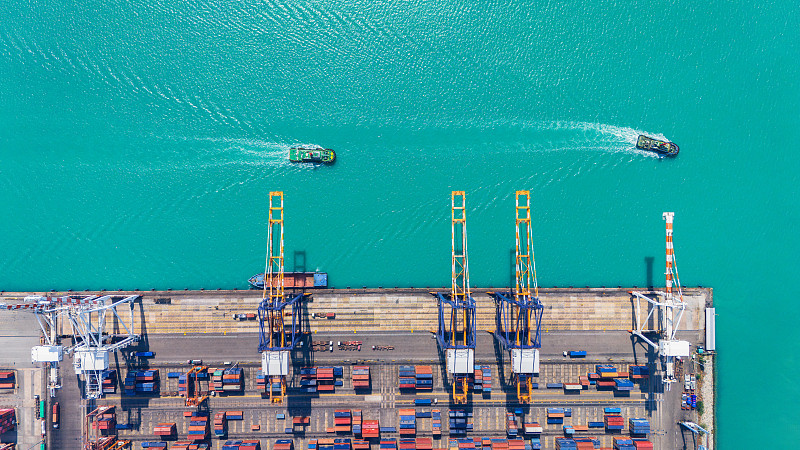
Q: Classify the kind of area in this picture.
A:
port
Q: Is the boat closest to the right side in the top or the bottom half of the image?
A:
top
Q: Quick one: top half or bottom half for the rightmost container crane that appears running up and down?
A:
bottom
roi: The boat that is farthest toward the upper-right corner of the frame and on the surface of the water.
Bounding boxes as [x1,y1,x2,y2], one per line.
[636,134,680,157]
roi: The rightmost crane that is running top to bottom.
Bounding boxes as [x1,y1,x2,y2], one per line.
[623,211,689,391]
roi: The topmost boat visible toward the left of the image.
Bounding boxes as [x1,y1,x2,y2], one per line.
[289,147,336,164]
